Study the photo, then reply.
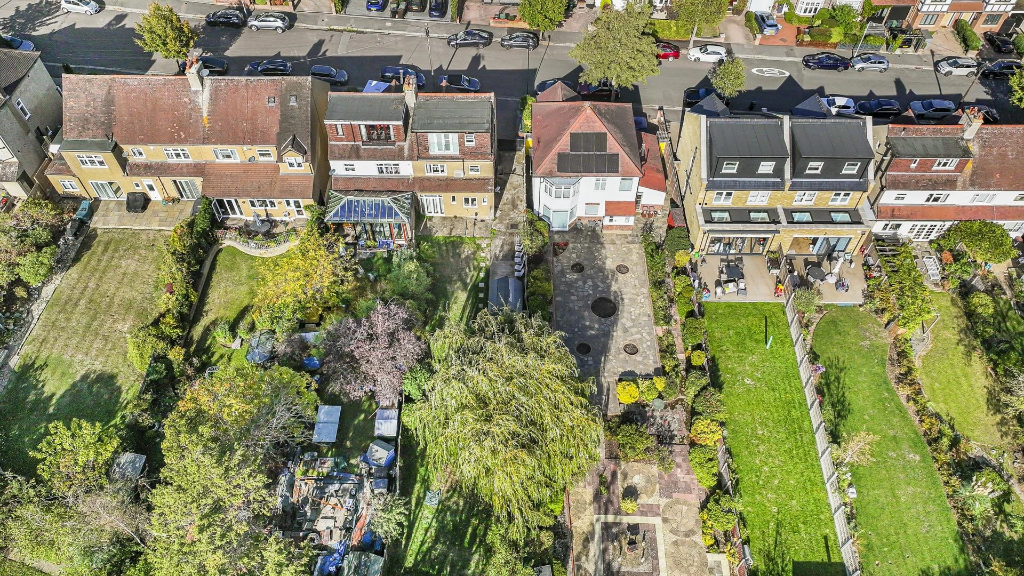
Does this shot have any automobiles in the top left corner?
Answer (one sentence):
Yes, the scene does show an automobile in the top left corner.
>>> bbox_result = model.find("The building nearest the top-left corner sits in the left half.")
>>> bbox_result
[0,40,57,177]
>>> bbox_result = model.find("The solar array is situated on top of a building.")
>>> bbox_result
[558,132,619,172]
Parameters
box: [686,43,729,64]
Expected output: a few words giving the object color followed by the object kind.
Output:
white car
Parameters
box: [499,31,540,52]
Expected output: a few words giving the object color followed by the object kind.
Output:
gray car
